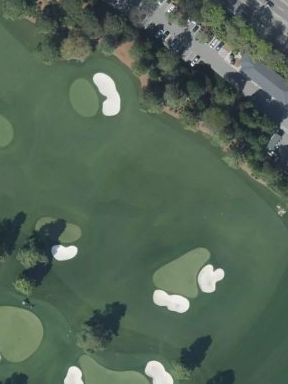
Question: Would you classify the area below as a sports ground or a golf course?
golf course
